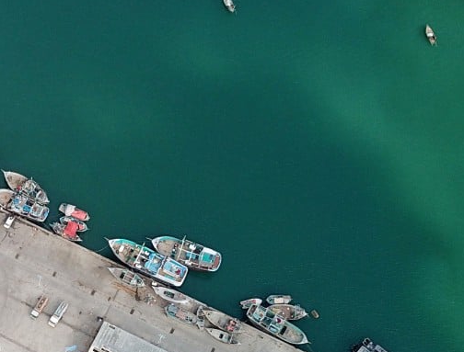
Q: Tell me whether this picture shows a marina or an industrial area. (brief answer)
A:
marina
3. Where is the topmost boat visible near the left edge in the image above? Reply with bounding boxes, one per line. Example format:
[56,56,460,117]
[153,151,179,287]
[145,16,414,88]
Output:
[0,166,49,206]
